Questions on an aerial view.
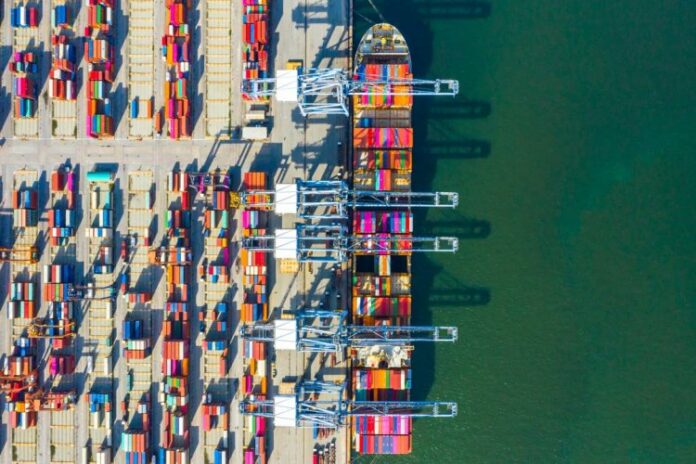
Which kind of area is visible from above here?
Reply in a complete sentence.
What you see here is a port.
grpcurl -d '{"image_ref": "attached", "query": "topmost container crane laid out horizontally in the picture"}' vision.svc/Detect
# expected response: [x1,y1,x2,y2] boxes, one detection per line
[244,70,460,123]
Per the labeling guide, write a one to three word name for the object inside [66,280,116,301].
container crane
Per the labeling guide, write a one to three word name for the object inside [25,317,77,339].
container crane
